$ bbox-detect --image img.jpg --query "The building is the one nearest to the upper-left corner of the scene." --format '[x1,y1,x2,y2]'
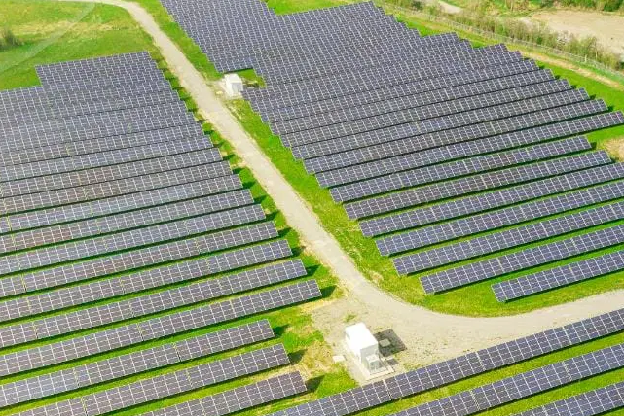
[224,73,245,96]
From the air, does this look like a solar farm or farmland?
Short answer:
solar farm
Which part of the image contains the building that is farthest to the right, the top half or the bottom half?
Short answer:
bottom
